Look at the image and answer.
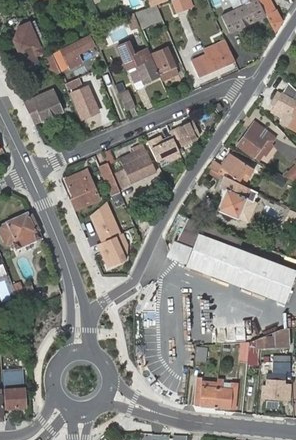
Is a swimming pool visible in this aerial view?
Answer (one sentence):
Yes, the image includes a swimming pool.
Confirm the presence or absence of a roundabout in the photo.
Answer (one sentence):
Yes, the image includes a roundabout.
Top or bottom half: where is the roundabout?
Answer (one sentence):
It is in the bottom half that the roundabout appears.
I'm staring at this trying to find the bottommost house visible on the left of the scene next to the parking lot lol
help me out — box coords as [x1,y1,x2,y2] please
[98,234,131,272]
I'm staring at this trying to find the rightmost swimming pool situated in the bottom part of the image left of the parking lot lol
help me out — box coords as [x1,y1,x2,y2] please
[16,254,36,281]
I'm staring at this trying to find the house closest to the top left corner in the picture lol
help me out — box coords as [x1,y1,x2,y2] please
[14,20,42,64]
